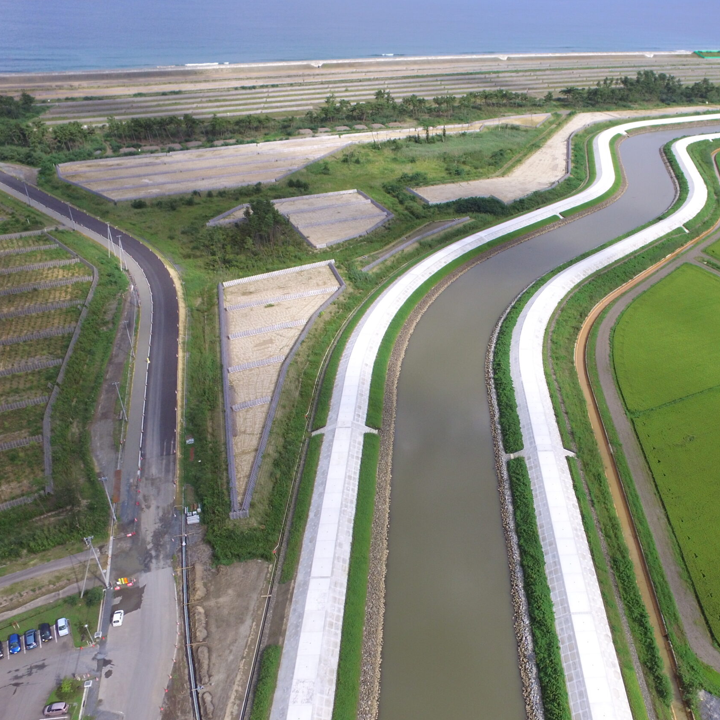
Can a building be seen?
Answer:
No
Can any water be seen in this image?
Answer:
Yes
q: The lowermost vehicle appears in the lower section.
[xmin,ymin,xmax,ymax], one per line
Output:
[39,701,71,718]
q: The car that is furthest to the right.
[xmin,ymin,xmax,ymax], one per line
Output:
[112,607,125,625]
